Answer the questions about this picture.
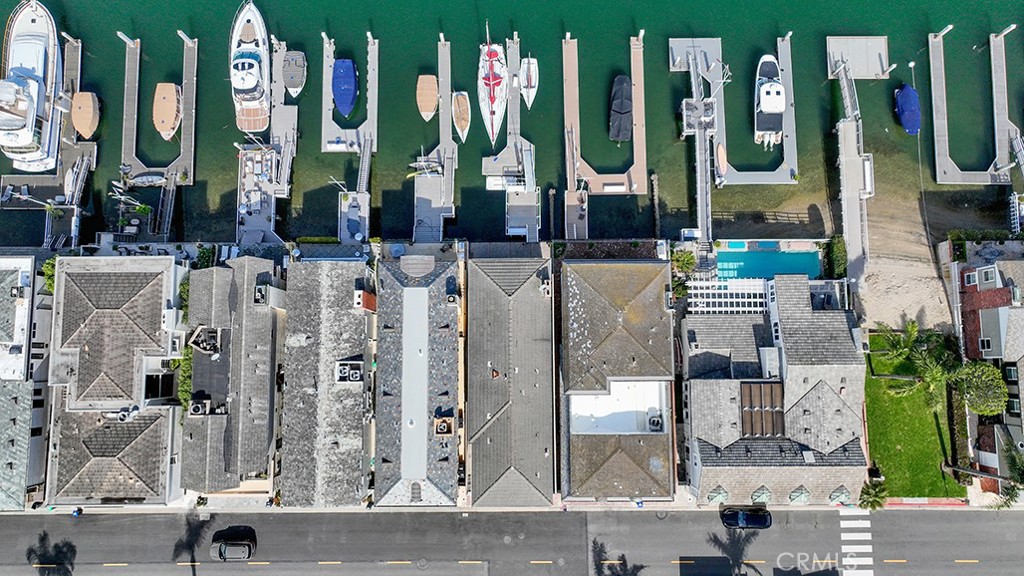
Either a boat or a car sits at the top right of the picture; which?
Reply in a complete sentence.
The one visible at the top right of the picture is a boat.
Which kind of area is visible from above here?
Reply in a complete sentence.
The area seen from above is a residential area.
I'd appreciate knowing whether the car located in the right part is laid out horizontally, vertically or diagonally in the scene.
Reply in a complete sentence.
The car located in the right part runs horizontally in the image.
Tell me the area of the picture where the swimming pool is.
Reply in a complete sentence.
The swimming pool is in the right part of the image.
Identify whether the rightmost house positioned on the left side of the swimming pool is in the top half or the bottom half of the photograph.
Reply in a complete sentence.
The bottom half of the photo is where the rightmost house positioned on the left side of the swimming pool is.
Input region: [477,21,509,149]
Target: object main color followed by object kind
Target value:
white boat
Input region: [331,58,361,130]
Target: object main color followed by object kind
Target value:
blue boat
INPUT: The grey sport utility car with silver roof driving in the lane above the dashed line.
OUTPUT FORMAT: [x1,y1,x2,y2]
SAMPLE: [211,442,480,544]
[211,539,257,564]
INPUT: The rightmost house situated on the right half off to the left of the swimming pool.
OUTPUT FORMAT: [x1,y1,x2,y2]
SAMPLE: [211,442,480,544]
[562,259,676,501]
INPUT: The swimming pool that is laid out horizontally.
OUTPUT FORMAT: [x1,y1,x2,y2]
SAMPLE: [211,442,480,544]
[679,236,835,283]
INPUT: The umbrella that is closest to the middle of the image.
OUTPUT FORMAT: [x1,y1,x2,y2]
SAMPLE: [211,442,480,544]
[388,242,404,257]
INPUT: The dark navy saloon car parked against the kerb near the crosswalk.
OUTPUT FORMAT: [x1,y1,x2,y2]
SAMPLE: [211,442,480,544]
[718,506,771,531]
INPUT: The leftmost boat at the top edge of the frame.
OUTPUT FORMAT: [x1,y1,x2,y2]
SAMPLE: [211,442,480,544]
[0,0,69,172]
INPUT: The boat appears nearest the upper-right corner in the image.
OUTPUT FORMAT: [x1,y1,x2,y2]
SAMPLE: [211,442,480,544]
[890,81,922,137]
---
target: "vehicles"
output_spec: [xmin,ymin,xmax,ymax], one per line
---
[718,506,771,531]
[211,539,257,564]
